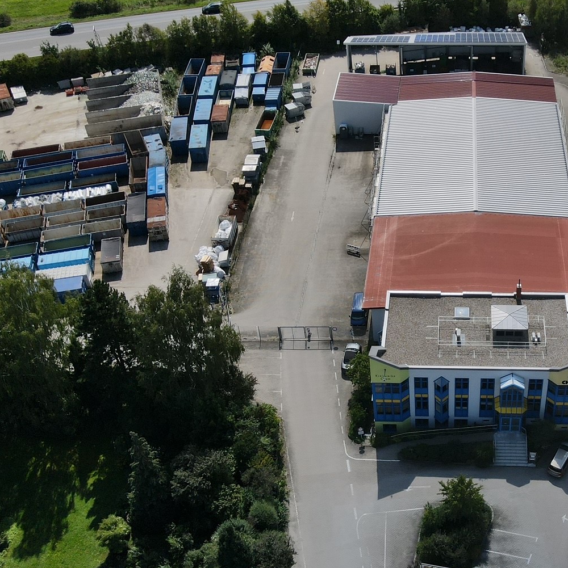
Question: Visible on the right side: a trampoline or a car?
car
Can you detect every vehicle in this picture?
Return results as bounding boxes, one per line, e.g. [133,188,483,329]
[341,338,362,373]
[201,0,226,13]
[49,22,74,36]
[545,437,568,478]
[348,286,366,325]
